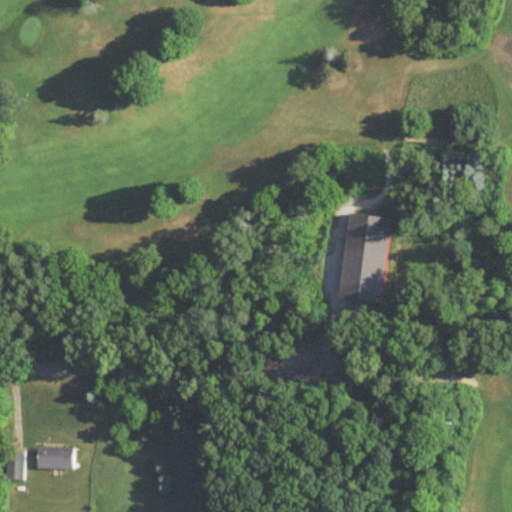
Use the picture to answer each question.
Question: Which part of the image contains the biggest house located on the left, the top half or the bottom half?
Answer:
bottom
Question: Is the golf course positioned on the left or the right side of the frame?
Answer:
left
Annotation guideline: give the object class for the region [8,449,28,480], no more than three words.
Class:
shed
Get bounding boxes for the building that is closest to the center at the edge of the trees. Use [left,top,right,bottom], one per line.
[340,212,394,304]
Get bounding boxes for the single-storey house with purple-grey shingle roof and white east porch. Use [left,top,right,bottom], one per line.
[37,444,79,474]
